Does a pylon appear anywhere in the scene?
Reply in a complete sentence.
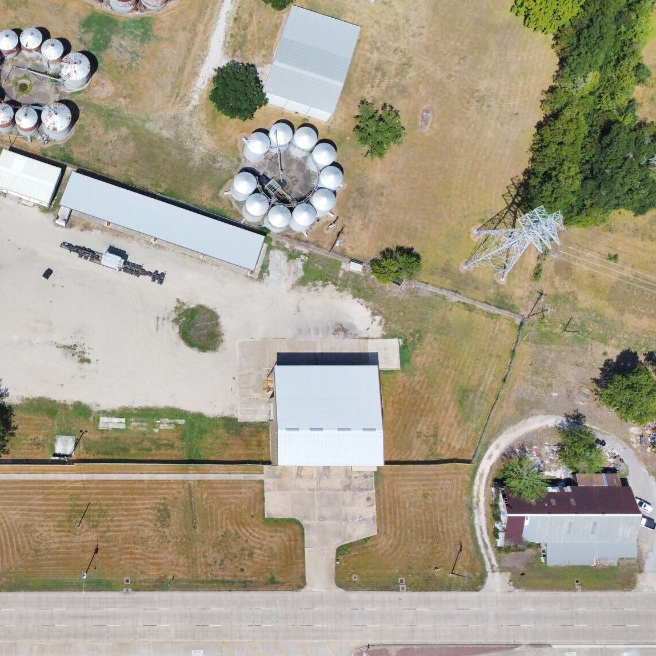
Yes, there is a pylon in the image.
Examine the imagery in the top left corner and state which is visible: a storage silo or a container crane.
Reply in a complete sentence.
You can see a storage silo in the top left corner.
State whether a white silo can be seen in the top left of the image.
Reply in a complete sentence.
Yes, there is a white silo in the top left of the image.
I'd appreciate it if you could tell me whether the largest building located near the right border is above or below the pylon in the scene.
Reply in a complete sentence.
Within the scene, the largest building located near the right border can be found below the pylon.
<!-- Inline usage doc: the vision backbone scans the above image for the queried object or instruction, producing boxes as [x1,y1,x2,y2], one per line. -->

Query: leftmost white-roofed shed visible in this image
[0,150,62,208]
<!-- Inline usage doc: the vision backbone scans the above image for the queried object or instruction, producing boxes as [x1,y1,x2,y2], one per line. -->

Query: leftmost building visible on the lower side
[270,366,385,474]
